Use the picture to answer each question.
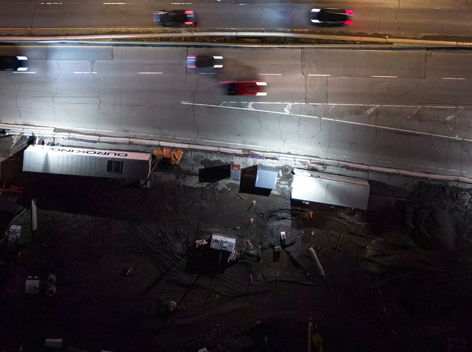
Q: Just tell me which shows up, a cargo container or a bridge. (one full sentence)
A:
The one in the frame is a cargo container.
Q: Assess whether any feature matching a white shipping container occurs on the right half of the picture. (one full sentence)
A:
Yes, you'll find a white shipping container on the right half of the picture.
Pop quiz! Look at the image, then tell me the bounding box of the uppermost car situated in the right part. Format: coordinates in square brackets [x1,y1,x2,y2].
[313,8,352,26]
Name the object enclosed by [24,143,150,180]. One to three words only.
trailer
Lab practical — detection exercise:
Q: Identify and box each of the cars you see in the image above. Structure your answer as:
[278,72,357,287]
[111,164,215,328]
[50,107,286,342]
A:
[0,54,26,72]
[189,54,222,71]
[227,80,266,98]
[156,9,192,26]
[313,8,352,26]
